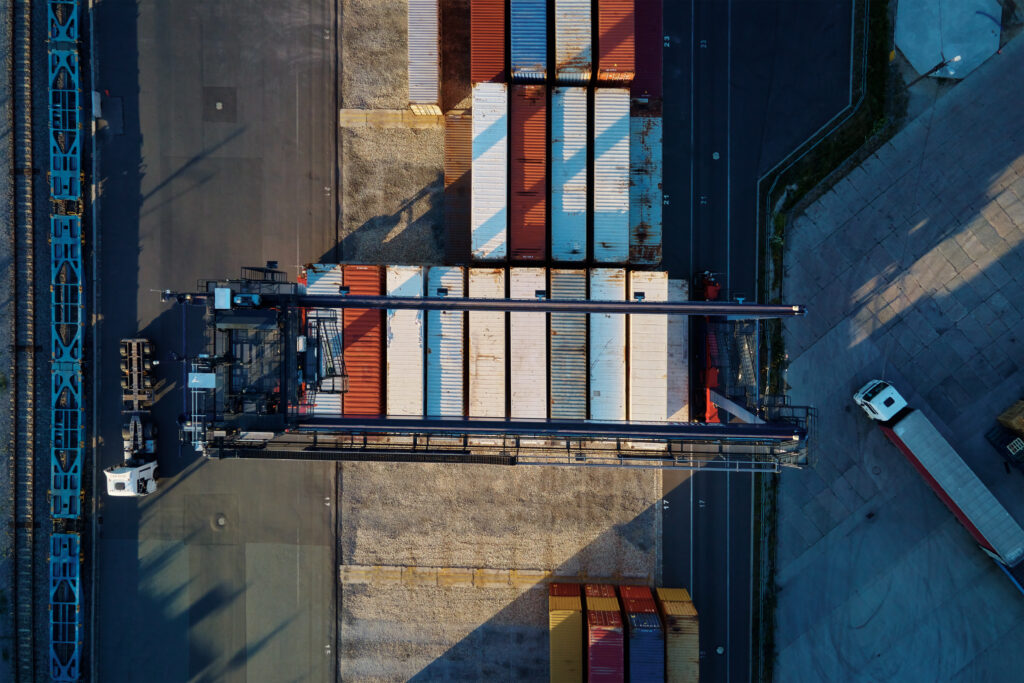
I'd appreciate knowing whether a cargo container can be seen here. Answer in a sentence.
Yes, a cargo container appears in the view.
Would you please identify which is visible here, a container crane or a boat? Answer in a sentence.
Looking from above, you can make out a container crane.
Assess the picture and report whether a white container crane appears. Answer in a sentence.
No, there appears to be no white container crane in this shot.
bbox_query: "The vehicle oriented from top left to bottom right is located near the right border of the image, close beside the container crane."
[850,367,1024,586]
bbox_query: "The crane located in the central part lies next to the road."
[158,262,818,471]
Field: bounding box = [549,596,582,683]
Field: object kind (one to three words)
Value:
shipping container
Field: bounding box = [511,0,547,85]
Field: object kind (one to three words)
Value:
shipping container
